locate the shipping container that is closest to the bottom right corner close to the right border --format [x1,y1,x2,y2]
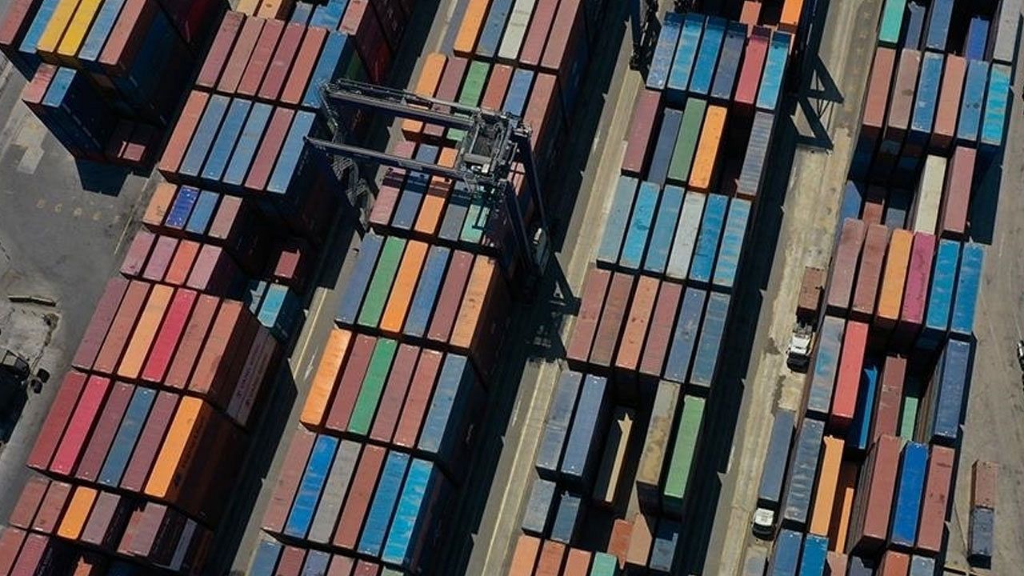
[965,507,995,563]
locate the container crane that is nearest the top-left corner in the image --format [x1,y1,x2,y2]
[299,75,562,295]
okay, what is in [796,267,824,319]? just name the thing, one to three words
shipping container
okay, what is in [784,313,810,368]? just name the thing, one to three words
truck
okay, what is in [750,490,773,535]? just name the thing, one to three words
truck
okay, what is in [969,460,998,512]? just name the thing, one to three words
shipping container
